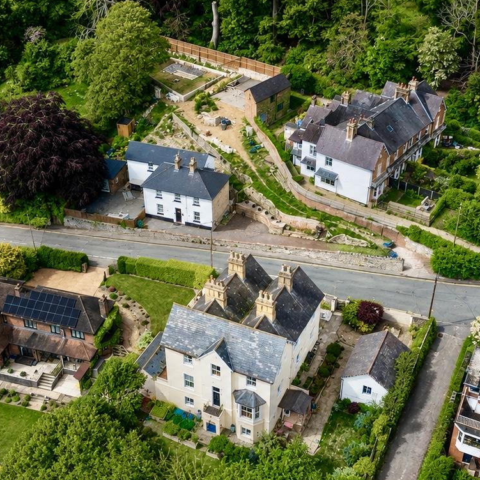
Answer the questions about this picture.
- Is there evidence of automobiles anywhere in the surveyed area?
No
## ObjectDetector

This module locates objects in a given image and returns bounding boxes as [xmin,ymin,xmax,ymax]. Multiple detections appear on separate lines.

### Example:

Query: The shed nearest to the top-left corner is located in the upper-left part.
[115,114,135,137]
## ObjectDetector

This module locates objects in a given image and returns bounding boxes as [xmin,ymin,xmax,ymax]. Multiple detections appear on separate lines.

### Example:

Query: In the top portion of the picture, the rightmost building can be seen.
[294,70,451,214]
